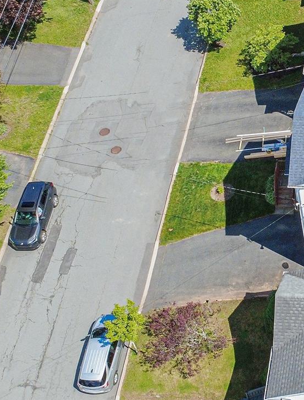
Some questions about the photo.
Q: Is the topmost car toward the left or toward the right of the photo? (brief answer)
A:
left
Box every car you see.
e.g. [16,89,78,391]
[1,182,55,253]
[73,310,125,394]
